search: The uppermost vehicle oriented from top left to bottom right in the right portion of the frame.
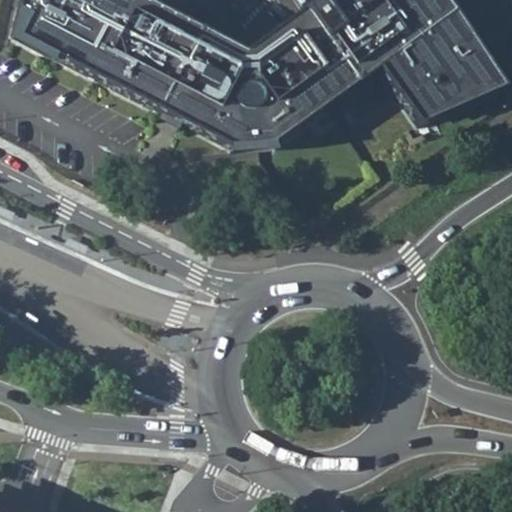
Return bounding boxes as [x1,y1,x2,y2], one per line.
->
[348,282,370,300]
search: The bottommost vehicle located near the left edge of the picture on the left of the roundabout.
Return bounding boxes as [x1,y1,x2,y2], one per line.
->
[7,390,30,405]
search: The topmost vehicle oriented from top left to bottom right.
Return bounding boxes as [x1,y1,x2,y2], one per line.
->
[4,152,26,170]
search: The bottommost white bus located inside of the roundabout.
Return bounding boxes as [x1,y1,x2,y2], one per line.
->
[240,432,359,472]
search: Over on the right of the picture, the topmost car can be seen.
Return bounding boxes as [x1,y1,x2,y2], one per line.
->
[435,226,457,244]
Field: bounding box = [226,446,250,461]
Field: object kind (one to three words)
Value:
car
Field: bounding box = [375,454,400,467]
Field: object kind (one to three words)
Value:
vehicle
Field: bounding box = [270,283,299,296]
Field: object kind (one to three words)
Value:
vehicle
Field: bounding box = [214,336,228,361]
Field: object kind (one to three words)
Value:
car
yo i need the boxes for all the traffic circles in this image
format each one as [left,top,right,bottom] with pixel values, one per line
[186,264,431,496]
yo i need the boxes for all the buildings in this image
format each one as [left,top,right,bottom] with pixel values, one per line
[16,0,508,149]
